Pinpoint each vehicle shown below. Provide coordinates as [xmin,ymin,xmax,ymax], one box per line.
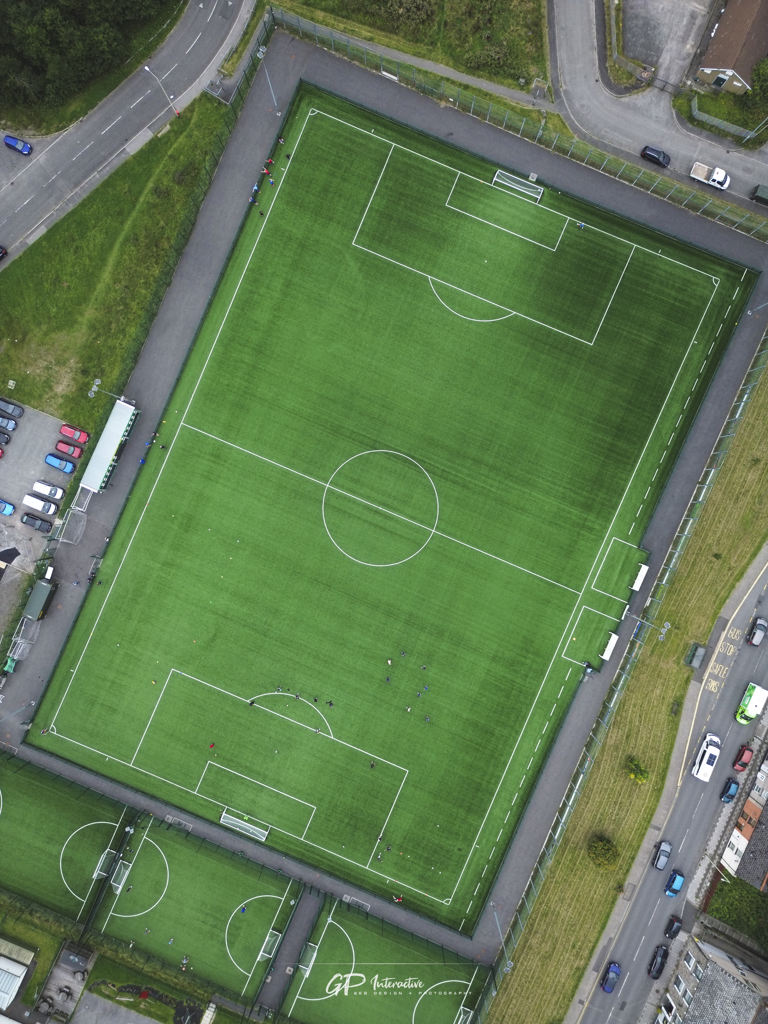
[688,162,730,190]
[652,840,670,871]
[21,493,58,515]
[747,618,766,646]
[601,961,619,992]
[20,512,52,533]
[54,439,84,458]
[3,134,34,156]
[0,429,11,444]
[664,870,684,896]
[0,244,10,263]
[0,397,25,416]
[664,914,683,939]
[733,745,753,771]
[737,680,768,722]
[720,777,740,803]
[58,423,90,444]
[0,414,17,431]
[691,733,720,784]
[648,946,668,979]
[44,453,76,473]
[33,479,65,500]
[639,145,671,169]
[0,500,16,516]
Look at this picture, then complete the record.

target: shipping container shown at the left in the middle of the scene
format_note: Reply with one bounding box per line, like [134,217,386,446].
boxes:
[22,578,59,621]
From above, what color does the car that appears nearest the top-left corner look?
blue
